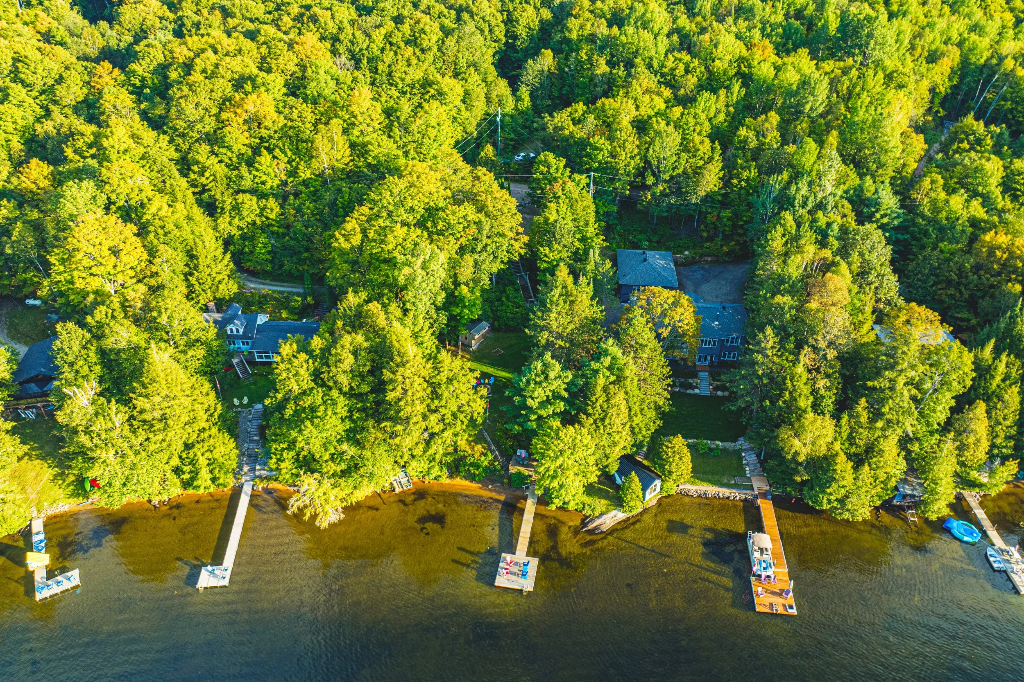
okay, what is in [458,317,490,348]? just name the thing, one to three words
shed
